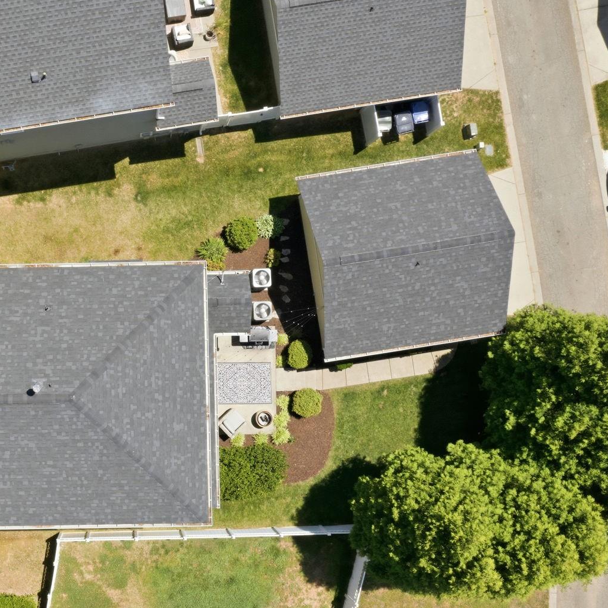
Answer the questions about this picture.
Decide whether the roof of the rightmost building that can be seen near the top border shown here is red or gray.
gray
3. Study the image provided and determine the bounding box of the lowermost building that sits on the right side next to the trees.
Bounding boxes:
[297,151,517,359]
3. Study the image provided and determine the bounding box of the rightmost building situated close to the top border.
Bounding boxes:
[260,0,469,120]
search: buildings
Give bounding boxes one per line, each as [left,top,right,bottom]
[0,261,254,531]
[0,0,219,157]
[260,0,469,120]
[297,151,517,359]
